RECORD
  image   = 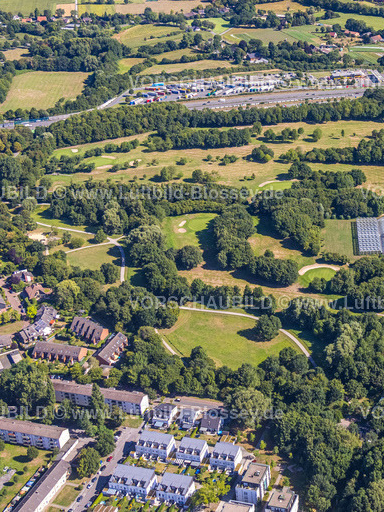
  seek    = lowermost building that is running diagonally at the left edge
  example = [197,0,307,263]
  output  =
[11,462,73,512]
